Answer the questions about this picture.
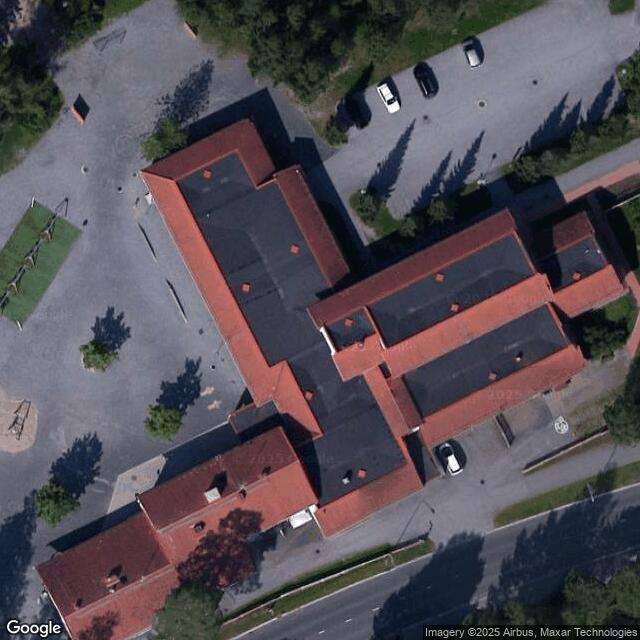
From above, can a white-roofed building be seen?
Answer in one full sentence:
No, the photo shows no white-roofed building.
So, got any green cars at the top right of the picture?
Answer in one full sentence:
No, I can find no green car at the top right of the picture.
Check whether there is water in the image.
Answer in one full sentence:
No, there is no water in the image.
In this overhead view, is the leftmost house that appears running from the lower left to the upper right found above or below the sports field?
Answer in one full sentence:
Looking at the photo, you'll find the leftmost house that appears running from the lower left to the upper right below the sports field.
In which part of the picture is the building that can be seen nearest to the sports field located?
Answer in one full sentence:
The building that can be seen nearest to the sports field is in the center part of the image.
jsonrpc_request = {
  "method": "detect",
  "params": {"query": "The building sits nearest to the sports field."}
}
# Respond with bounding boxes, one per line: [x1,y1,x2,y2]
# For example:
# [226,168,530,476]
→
[141,118,441,539]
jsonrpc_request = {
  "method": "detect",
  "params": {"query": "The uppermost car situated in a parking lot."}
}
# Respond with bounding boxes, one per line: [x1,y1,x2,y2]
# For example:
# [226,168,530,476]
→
[463,40,482,69]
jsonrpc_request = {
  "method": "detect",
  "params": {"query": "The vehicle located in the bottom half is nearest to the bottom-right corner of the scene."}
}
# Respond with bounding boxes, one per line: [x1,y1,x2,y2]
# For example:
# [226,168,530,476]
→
[438,441,461,476]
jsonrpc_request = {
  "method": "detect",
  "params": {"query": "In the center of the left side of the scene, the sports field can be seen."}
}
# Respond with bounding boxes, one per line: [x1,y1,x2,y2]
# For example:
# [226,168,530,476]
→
[0,200,82,321]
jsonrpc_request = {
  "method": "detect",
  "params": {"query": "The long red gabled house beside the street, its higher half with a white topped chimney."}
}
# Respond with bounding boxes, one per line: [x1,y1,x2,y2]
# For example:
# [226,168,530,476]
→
[36,425,318,640]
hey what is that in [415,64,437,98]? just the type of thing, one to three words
car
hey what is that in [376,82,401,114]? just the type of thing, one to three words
car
